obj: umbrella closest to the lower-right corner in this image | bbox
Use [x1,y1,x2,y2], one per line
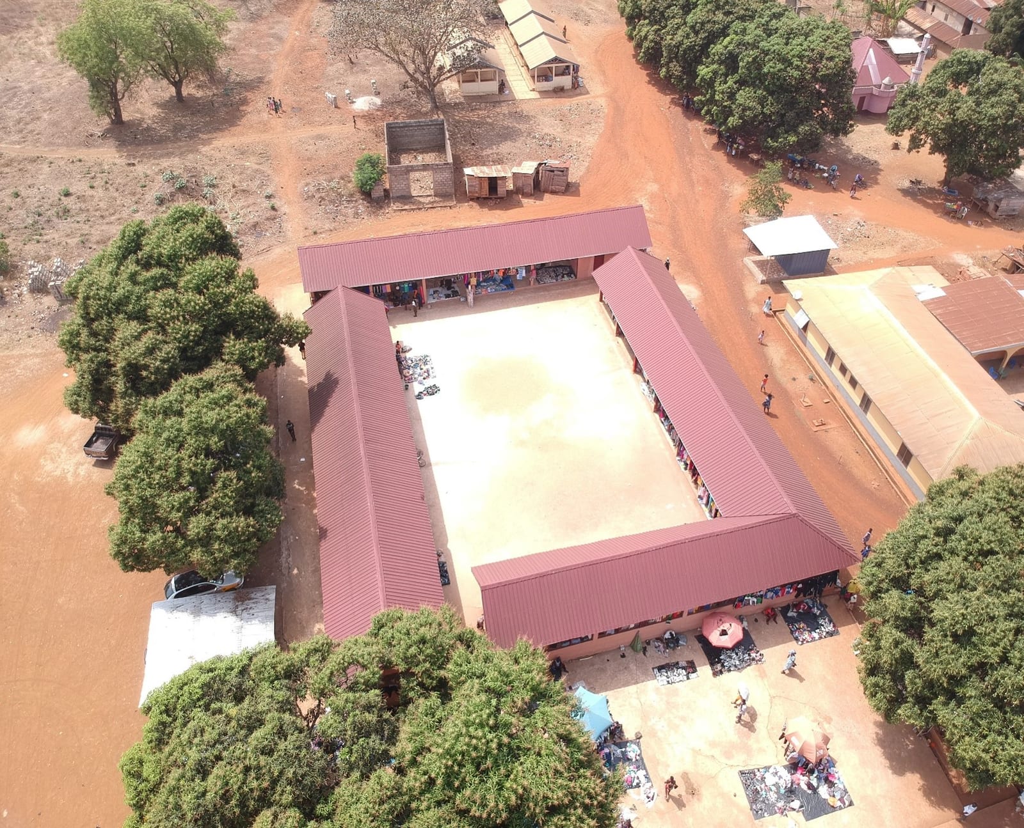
[776,716,830,766]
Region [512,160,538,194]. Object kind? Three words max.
shed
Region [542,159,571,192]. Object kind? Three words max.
shed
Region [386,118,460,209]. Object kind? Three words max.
building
